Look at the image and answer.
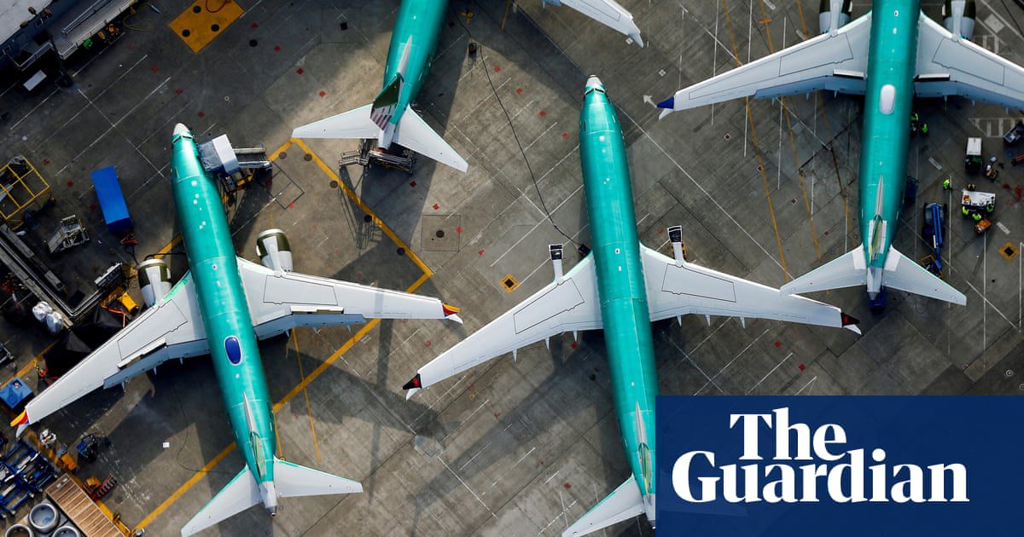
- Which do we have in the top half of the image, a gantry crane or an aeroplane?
aeroplane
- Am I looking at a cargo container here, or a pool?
cargo container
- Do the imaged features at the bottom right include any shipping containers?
No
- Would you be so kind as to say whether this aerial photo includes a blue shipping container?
Yes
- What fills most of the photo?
paved ground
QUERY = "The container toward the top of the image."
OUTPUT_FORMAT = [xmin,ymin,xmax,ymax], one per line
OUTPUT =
[91,167,138,243]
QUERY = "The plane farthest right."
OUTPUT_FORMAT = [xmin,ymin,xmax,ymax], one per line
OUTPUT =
[658,0,1024,306]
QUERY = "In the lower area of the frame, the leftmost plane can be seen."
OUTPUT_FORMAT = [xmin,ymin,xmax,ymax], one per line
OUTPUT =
[12,123,462,537]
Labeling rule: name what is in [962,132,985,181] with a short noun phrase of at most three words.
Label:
truck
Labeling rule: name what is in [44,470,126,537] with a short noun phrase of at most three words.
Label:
trailer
